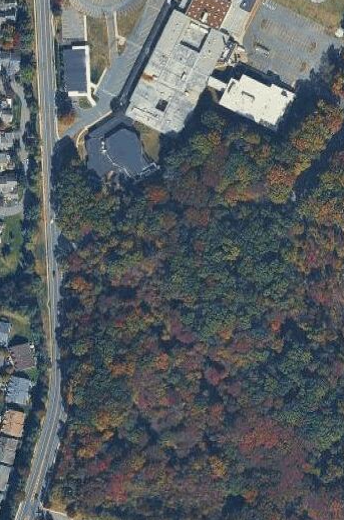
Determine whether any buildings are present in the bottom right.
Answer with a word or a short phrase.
No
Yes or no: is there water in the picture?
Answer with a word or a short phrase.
No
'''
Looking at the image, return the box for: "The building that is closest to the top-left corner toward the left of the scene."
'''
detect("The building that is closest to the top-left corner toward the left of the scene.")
[63,45,96,106]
